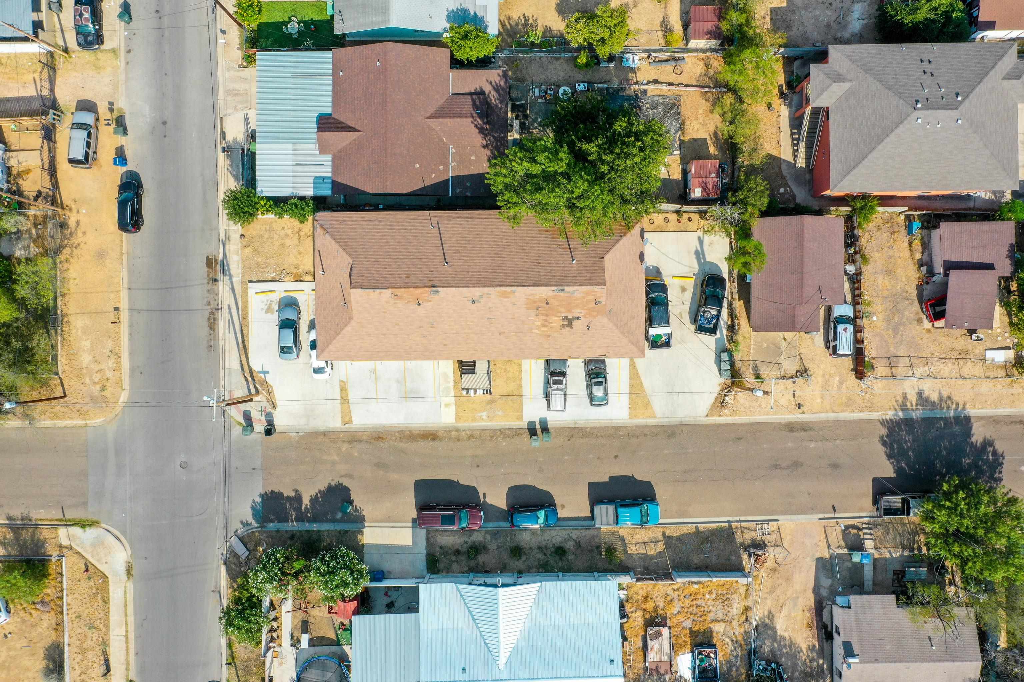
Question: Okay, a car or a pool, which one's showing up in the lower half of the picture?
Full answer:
It is a car that can be seen in the lower half of the picture.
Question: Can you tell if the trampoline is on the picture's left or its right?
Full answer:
The trampoline is on the left side of the image.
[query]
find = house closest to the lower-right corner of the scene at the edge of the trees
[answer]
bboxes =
[825,595,982,682]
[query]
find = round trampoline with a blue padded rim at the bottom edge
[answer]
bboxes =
[295,660,350,682]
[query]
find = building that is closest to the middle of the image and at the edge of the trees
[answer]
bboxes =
[314,211,669,361]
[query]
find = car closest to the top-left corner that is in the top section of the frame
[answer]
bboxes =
[73,0,105,45]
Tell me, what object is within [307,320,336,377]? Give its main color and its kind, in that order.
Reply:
white car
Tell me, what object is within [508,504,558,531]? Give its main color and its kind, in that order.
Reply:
blue car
